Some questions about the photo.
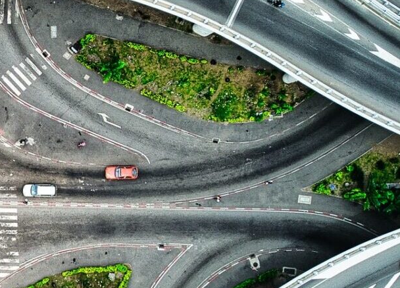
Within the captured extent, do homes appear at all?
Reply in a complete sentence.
No, I find no home anywhere in the image.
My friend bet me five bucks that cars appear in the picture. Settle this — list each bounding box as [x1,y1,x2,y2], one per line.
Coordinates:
[24,183,58,197]
[106,164,141,179]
